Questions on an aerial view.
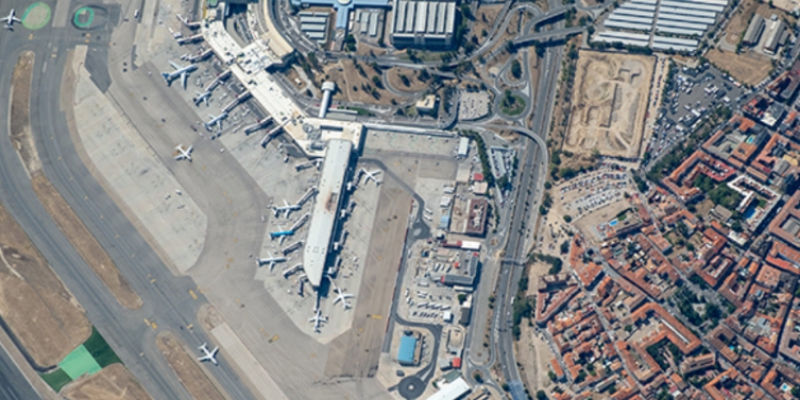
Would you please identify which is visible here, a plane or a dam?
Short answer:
plane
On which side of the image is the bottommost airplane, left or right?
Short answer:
left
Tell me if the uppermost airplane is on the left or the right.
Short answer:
left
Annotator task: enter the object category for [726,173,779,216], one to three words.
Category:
building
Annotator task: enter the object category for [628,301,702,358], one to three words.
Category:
building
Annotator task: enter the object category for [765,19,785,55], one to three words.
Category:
shed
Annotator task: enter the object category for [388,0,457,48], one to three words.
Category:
hangar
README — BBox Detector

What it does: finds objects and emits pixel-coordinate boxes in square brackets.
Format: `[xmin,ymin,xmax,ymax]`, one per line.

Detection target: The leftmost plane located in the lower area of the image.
[198,343,219,364]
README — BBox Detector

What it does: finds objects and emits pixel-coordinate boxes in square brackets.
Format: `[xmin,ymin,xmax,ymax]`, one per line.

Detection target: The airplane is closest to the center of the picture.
[362,167,383,186]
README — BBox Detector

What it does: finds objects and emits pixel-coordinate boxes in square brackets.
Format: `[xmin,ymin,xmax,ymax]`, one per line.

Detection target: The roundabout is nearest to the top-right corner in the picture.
[495,90,530,120]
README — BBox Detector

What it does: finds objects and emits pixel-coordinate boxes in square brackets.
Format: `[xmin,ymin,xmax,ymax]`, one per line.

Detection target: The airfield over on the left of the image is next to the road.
[0,0,470,400]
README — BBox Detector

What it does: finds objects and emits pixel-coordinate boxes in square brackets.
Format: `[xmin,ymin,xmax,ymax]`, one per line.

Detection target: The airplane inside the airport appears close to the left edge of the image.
[0,9,22,30]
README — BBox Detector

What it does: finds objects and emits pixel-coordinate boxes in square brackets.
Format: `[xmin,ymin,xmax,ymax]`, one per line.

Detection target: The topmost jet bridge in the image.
[176,13,203,27]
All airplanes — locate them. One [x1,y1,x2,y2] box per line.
[0,9,22,30]
[176,145,191,161]
[162,62,198,84]
[256,250,289,271]
[194,91,212,105]
[198,343,219,364]
[205,113,227,129]
[362,167,383,186]
[334,288,356,310]
[307,309,328,331]
[270,224,295,244]
[272,198,301,217]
